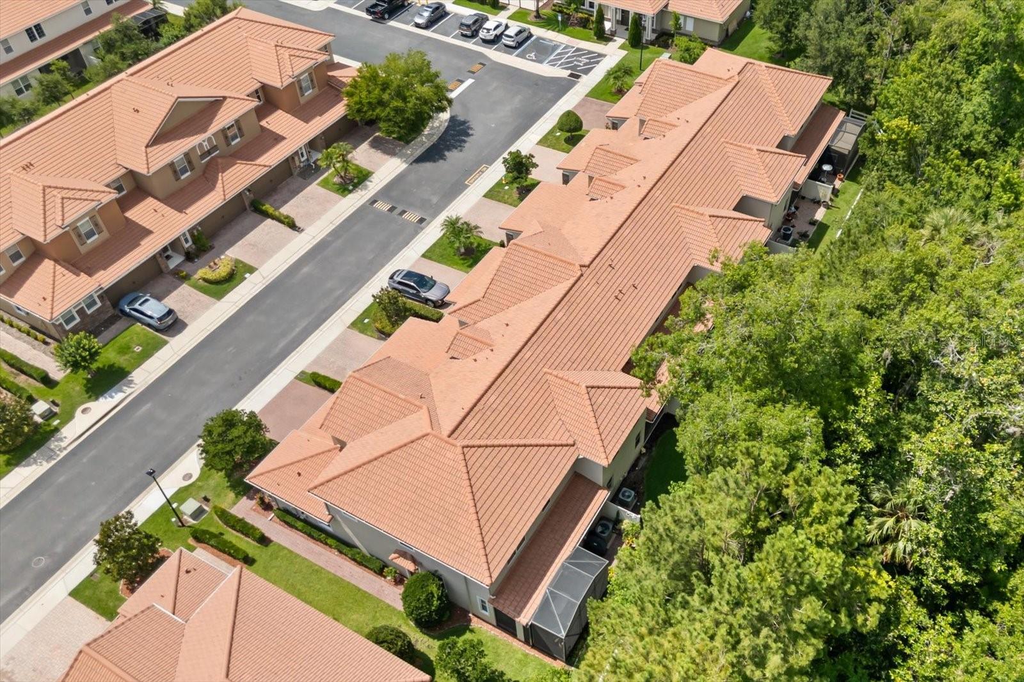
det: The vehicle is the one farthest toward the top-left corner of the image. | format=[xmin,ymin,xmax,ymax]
[119,292,177,329]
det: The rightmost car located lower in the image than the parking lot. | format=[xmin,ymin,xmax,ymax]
[385,265,446,304]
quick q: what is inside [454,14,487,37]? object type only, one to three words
car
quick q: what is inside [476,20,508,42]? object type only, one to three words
car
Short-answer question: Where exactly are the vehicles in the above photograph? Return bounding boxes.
[119,292,177,329]
[369,0,408,18]
[416,4,448,26]
[385,265,446,304]
[454,14,487,37]
[476,20,508,42]
[499,27,528,47]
